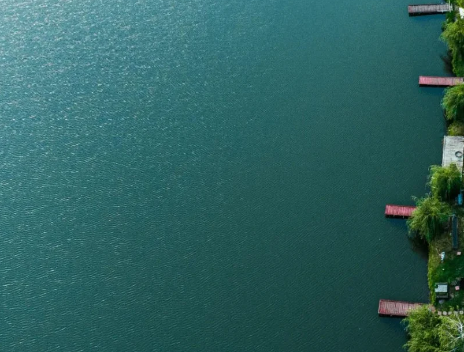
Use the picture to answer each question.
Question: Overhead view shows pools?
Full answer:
No, the picture doesn't show any pool.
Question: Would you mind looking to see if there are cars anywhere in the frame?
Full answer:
No, I find no car anywhere in the image.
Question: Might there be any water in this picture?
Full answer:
Yes, there's water in this view.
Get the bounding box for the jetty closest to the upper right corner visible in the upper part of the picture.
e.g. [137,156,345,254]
[408,0,452,15]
